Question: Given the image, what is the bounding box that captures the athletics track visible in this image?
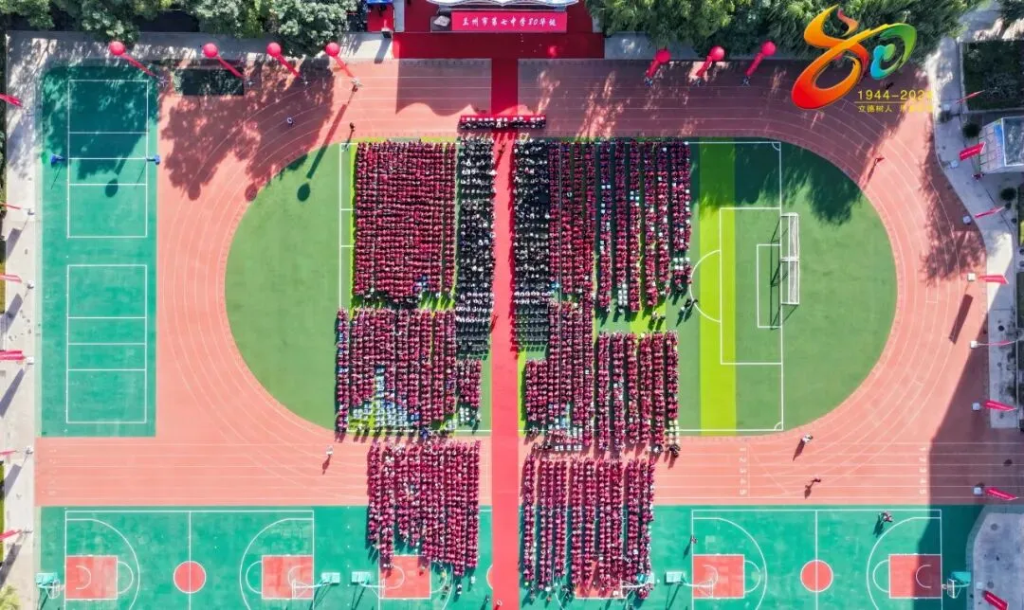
[36,58,1024,506]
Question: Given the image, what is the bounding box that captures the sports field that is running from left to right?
[226,136,898,436]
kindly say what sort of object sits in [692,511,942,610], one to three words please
basketball court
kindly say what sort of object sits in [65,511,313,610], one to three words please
basketball court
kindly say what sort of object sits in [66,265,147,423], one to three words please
sports court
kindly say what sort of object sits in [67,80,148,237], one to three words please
sports court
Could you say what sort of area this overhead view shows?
sports ground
